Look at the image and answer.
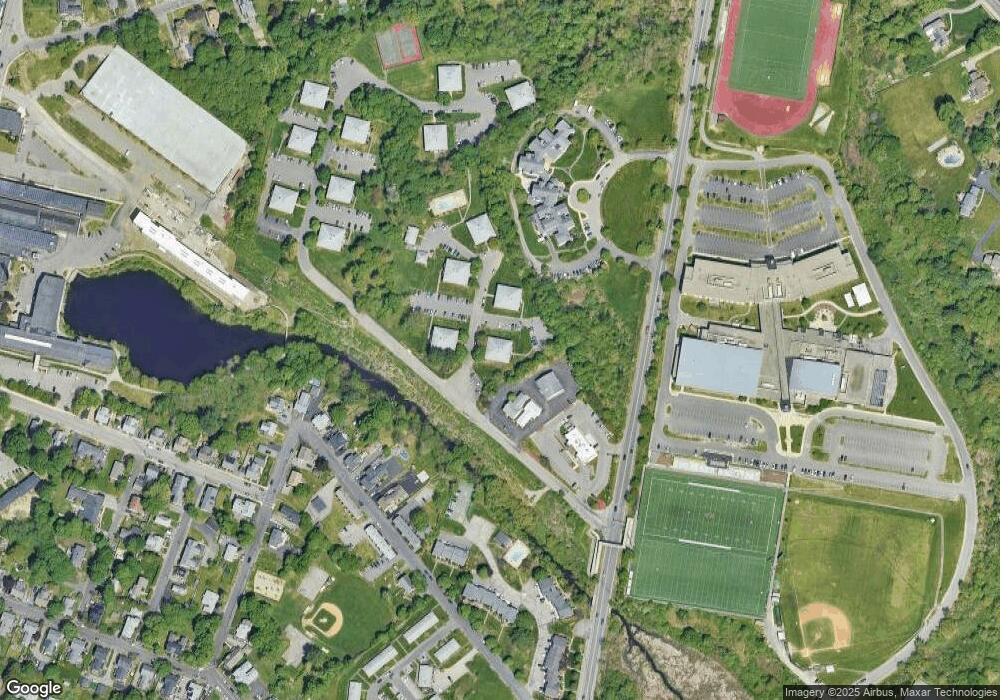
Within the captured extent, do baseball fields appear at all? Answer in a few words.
Yes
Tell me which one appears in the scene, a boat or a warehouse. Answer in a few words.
warehouse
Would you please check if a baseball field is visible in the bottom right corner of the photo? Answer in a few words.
Yes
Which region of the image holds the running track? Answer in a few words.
top right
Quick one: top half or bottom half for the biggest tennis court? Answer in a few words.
top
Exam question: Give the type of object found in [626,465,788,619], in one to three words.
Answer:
sports field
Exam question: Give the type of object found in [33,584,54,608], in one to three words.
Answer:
house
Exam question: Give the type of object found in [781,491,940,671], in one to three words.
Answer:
baseball field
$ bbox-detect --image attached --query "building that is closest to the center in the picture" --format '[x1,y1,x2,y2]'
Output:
[484,335,513,363]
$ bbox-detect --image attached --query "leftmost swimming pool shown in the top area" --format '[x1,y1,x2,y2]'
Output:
[430,192,467,215]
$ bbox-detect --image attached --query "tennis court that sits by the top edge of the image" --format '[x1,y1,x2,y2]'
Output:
[377,24,423,69]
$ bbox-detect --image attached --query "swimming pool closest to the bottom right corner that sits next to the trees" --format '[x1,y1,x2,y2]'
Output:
[506,543,528,567]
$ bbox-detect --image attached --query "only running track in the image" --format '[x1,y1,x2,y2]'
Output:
[714,0,844,136]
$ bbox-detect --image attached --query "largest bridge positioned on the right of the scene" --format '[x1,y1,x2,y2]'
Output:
[588,508,635,576]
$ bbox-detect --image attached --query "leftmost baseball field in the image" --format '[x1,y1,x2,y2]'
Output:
[302,602,343,637]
